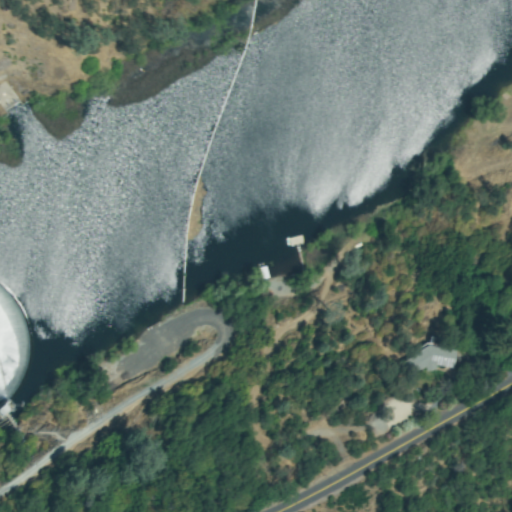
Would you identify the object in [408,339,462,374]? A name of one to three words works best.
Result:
house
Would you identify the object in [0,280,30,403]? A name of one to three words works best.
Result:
dam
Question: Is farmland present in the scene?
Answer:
No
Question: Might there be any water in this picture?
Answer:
Yes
